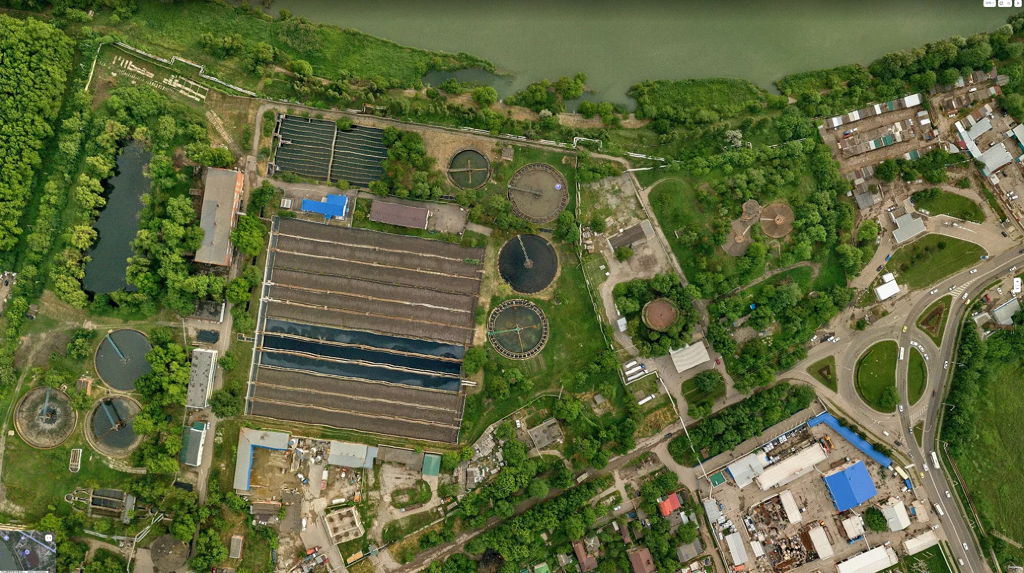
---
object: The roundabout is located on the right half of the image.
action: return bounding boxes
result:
[807,296,952,447]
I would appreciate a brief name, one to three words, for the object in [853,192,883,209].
shed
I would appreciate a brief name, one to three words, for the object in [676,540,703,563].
house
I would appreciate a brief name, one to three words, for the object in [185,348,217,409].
building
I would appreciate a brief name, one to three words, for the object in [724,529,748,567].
building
